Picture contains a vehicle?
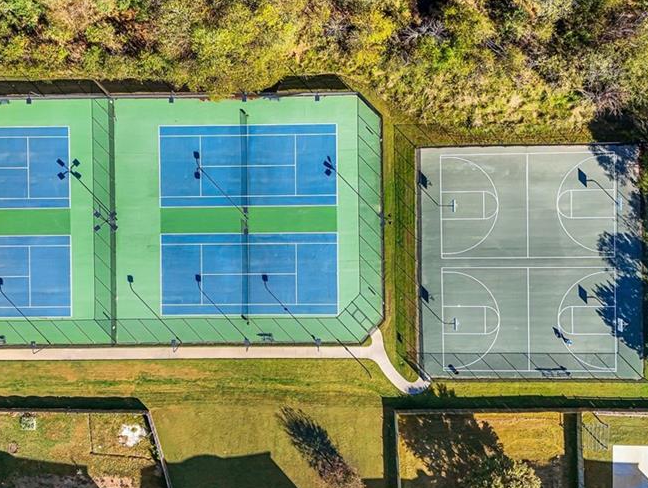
No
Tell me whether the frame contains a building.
No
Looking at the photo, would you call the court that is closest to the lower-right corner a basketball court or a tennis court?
basketball court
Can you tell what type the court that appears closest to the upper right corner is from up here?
basketball court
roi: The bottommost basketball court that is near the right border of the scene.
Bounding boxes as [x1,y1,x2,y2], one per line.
[441,267,619,373]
